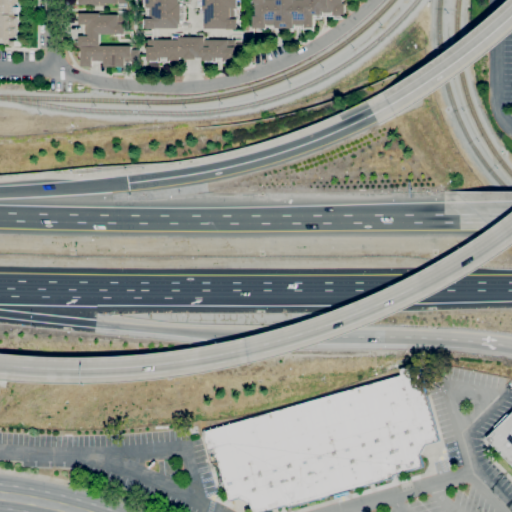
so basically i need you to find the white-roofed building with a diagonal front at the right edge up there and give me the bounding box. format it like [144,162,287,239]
[484,408,512,464]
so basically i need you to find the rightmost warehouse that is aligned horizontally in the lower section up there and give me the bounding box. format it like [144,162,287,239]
[203,371,438,512]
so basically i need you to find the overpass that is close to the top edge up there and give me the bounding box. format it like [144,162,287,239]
[366,0,512,126]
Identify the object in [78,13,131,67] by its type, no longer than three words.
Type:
house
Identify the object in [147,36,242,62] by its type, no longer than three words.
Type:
house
